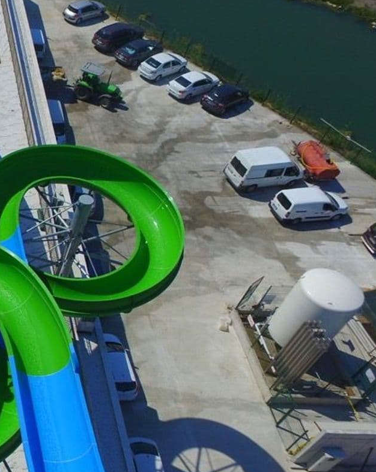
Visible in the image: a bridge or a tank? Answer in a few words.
tank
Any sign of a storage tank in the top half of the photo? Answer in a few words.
No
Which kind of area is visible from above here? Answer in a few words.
parking lot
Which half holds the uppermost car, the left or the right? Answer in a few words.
left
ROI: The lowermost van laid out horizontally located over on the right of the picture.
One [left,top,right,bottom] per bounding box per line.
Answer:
[271,181,349,217]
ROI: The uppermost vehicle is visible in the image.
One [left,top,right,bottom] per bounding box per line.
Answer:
[62,0,106,20]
